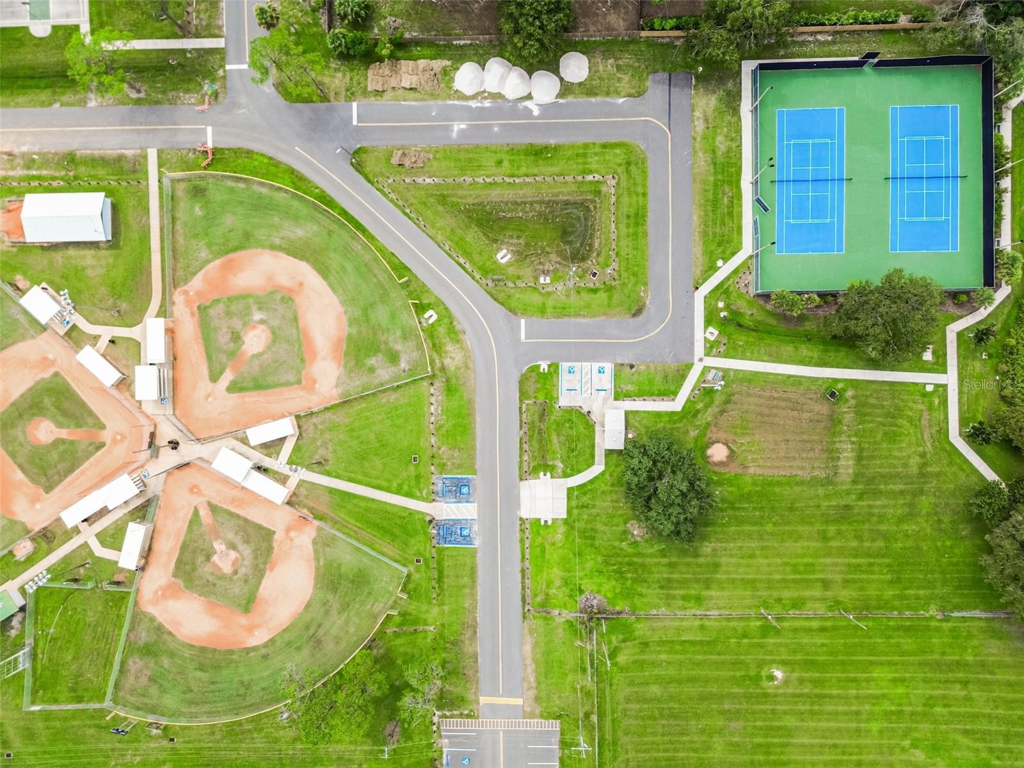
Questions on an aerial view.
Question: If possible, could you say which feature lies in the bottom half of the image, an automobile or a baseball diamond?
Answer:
baseball diamond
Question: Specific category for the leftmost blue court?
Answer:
tennis court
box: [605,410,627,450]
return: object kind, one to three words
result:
building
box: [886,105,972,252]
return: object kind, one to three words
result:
tennis court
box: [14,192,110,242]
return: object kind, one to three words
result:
shed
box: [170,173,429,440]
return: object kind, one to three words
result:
baseball field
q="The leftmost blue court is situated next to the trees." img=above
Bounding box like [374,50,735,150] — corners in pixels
[770,107,856,253]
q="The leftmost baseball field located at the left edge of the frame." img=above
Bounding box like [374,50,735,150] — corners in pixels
[0,290,155,551]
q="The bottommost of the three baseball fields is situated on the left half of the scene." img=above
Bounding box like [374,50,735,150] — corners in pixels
[112,458,405,718]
